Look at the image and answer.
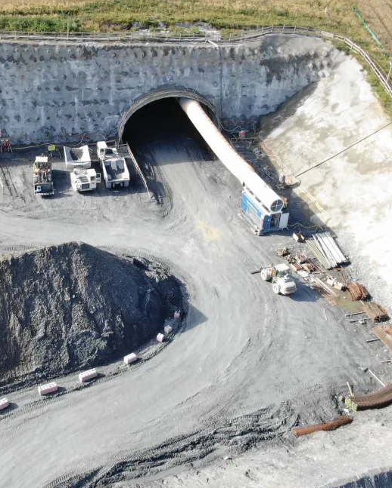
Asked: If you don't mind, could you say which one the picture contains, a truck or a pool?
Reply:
truck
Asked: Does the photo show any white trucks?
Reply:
Yes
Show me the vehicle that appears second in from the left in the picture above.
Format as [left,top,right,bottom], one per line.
[62,142,100,192]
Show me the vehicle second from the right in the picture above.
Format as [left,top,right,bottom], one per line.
[97,136,134,189]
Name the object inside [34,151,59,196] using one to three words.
work vehicle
